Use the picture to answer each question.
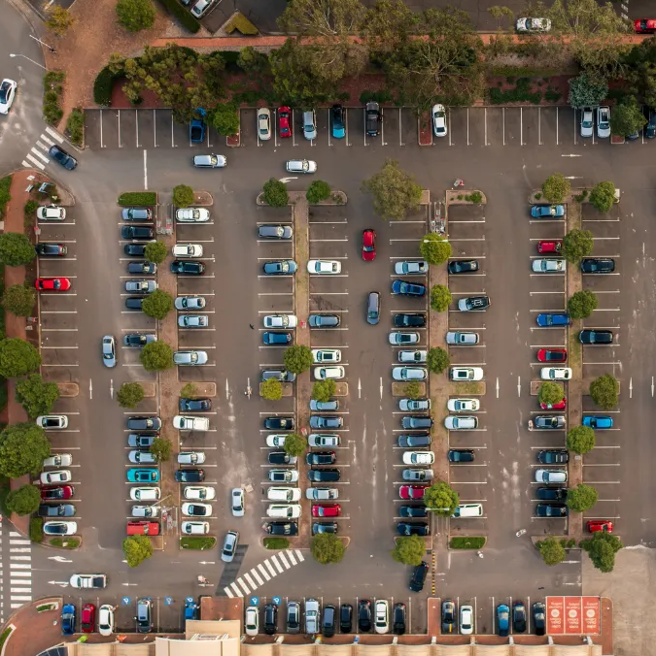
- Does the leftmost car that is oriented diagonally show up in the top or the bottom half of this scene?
top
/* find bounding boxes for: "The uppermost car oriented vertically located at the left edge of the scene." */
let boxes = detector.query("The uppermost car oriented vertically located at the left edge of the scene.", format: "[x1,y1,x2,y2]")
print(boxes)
[0,77,17,115]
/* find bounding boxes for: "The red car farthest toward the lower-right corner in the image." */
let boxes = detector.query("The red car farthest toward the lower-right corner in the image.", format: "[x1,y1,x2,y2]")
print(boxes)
[585,519,613,533]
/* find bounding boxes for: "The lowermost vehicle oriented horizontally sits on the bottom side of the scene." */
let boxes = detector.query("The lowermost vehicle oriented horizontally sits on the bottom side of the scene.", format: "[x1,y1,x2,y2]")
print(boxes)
[70,573,108,590]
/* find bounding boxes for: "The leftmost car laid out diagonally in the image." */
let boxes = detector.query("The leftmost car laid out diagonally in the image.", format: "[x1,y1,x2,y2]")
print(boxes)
[46,141,79,171]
